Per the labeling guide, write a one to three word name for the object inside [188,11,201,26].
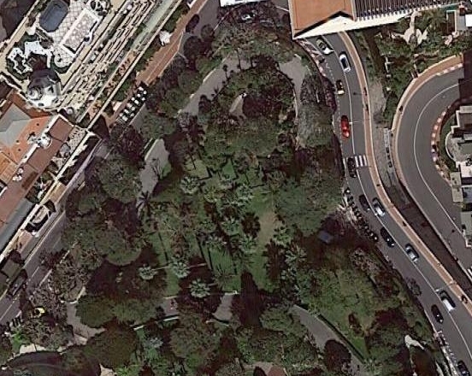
vehicle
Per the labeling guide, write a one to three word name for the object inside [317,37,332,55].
car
